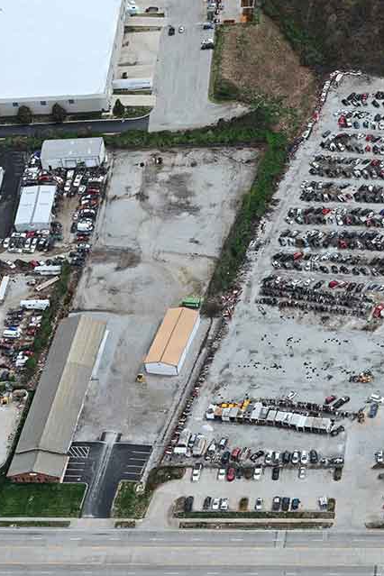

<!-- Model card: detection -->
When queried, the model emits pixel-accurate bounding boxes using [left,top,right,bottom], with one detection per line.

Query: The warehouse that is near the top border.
[0,0,130,115]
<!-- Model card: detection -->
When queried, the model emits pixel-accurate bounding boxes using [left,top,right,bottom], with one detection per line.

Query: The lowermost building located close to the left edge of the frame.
[9,312,110,488]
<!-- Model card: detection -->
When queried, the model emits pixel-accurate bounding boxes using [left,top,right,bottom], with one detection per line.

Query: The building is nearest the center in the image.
[144,305,200,375]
